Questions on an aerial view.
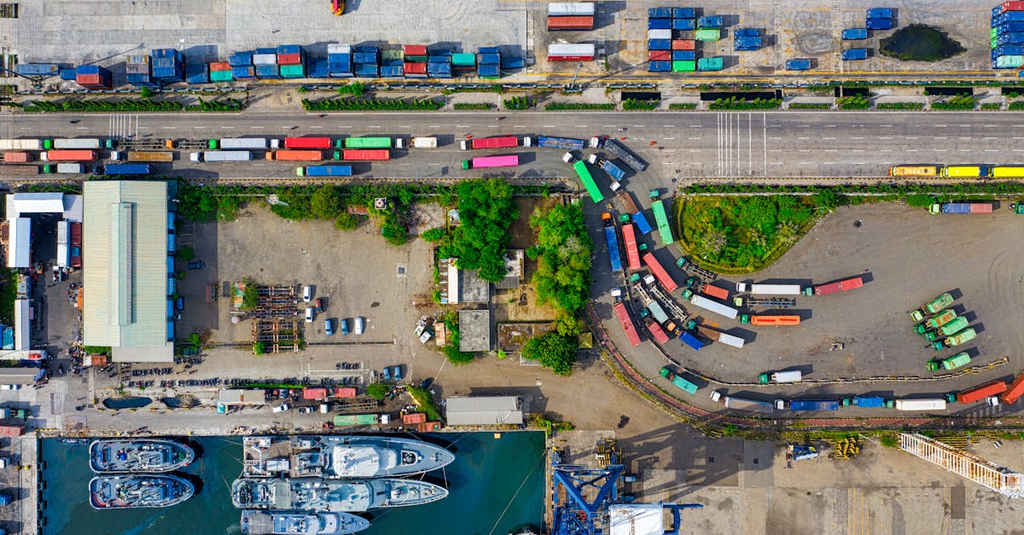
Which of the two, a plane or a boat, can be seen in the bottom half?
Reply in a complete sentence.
What appears in the bottom half is a boat.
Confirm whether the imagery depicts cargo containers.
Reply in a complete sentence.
Yes, you can see a cargo container in this photo.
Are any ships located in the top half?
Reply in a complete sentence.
No, there is no ship in the top half.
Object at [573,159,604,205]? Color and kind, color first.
green shipping container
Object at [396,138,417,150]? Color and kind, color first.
white vehicle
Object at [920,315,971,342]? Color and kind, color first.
green truck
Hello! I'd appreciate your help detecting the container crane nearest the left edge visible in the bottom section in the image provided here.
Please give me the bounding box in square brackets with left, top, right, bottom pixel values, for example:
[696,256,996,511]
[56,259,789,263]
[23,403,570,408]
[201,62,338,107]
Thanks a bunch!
[551,449,704,535]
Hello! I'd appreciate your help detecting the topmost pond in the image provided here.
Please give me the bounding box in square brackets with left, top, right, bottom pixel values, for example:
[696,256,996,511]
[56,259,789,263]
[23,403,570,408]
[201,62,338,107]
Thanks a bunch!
[879,23,967,62]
